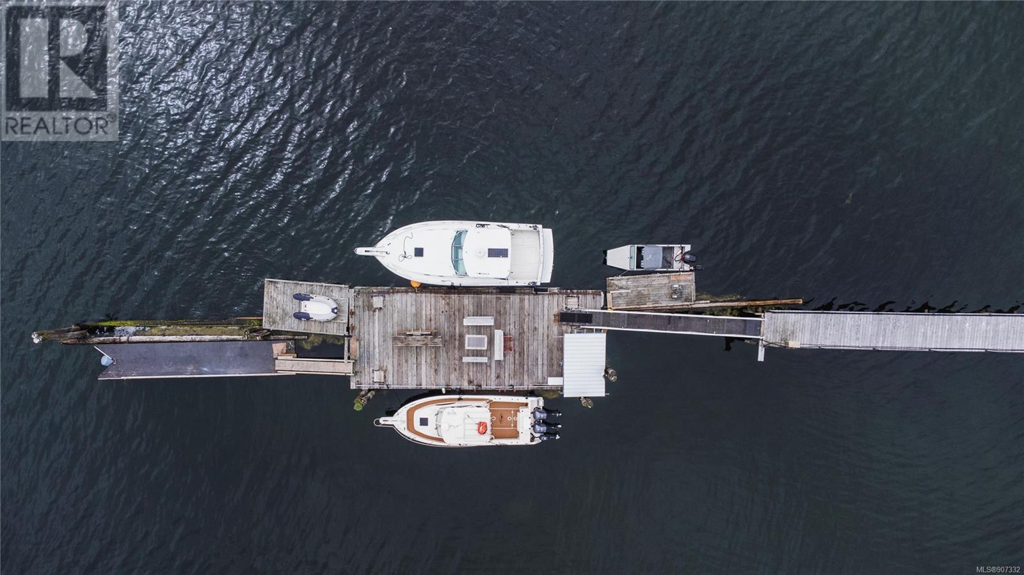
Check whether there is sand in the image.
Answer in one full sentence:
No, the picture contains no sand.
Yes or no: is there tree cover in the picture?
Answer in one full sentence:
No, the scene doesn't show any tree cover.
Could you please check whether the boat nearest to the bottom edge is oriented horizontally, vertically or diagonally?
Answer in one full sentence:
The boat nearest to the bottom edge runs horizontally in the image.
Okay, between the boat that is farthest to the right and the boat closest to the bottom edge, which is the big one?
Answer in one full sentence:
Compared with the boat that is farthest to the right, the boat closest to the bottom edge is the bigger one.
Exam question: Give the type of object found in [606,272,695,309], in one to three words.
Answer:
pier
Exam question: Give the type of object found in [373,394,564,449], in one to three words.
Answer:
boat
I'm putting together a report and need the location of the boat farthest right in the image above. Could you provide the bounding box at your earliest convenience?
[601,245,707,270]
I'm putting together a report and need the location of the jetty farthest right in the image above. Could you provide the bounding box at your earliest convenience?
[742,310,1024,361]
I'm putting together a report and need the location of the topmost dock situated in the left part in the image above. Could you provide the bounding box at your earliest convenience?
[263,279,350,336]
